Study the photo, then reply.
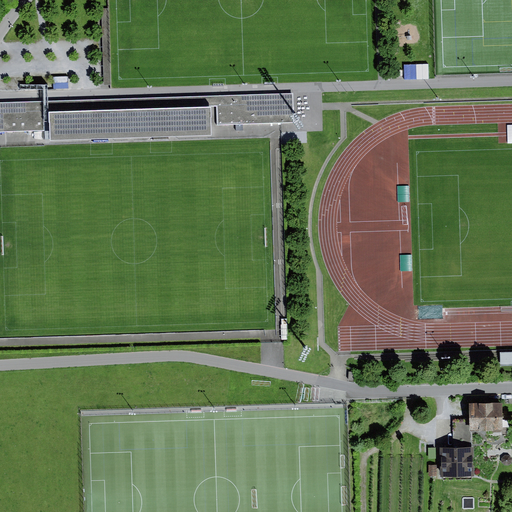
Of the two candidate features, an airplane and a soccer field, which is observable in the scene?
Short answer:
soccer field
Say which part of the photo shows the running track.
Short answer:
right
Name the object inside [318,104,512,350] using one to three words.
running track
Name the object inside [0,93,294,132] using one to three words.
building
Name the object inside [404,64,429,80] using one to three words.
building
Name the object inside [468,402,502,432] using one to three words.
house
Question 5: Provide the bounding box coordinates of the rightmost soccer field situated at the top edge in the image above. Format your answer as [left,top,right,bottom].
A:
[434,0,512,74]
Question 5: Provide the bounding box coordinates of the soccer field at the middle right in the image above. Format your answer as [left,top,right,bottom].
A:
[409,122,512,306]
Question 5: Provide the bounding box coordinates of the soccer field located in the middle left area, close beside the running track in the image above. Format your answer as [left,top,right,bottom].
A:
[0,138,276,338]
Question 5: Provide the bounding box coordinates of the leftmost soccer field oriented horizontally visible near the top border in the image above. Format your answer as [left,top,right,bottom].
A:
[110,0,376,88]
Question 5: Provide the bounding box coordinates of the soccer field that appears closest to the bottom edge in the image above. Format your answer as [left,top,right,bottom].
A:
[81,408,351,512]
